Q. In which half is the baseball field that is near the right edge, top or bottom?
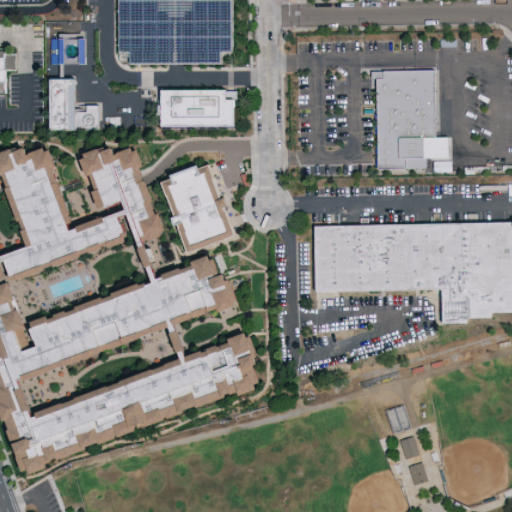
bottom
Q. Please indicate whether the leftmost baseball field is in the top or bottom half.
bottom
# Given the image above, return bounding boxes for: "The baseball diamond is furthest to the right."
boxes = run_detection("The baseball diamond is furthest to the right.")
[442,438,509,504]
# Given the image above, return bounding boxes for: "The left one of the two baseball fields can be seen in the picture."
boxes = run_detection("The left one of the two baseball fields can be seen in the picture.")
[350,470,408,512]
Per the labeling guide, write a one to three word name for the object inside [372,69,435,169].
building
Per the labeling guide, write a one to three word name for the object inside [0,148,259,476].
building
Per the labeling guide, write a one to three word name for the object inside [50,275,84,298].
swimming pool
